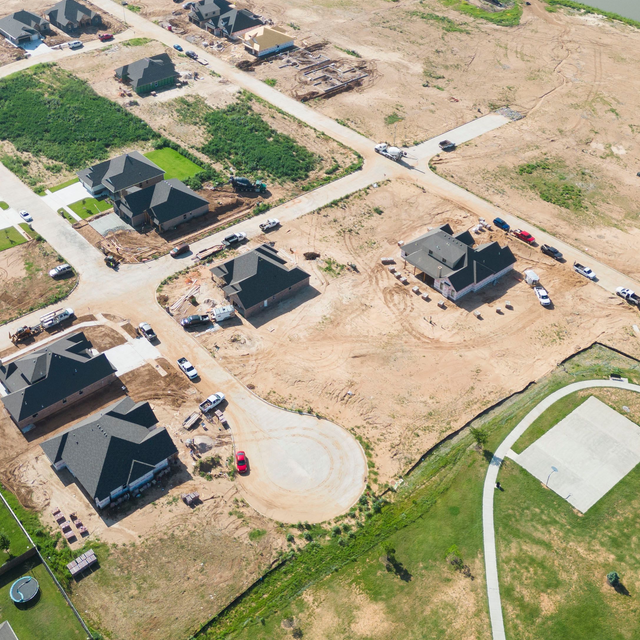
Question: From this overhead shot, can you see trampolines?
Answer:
Yes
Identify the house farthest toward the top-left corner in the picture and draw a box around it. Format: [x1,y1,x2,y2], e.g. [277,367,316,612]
[0,10,53,46]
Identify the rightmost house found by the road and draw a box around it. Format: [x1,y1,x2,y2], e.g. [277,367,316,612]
[400,216,522,300]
